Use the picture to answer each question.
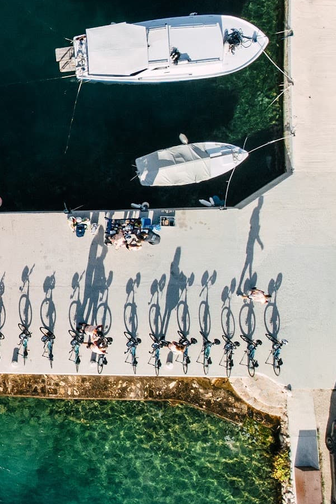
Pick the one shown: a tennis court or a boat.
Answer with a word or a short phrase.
boat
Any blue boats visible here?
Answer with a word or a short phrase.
No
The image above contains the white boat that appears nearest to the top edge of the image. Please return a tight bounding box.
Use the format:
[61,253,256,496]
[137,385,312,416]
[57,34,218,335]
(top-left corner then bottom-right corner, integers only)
[54,14,271,83]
